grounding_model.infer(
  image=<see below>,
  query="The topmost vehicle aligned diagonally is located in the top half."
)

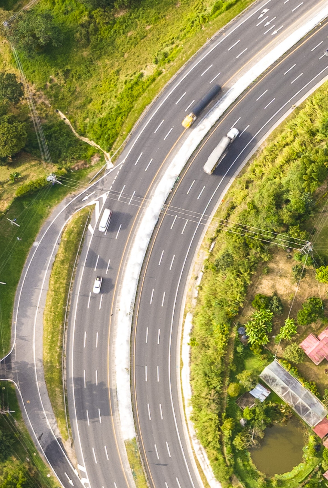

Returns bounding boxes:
[185,86,222,129]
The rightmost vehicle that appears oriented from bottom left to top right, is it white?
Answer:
Yes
